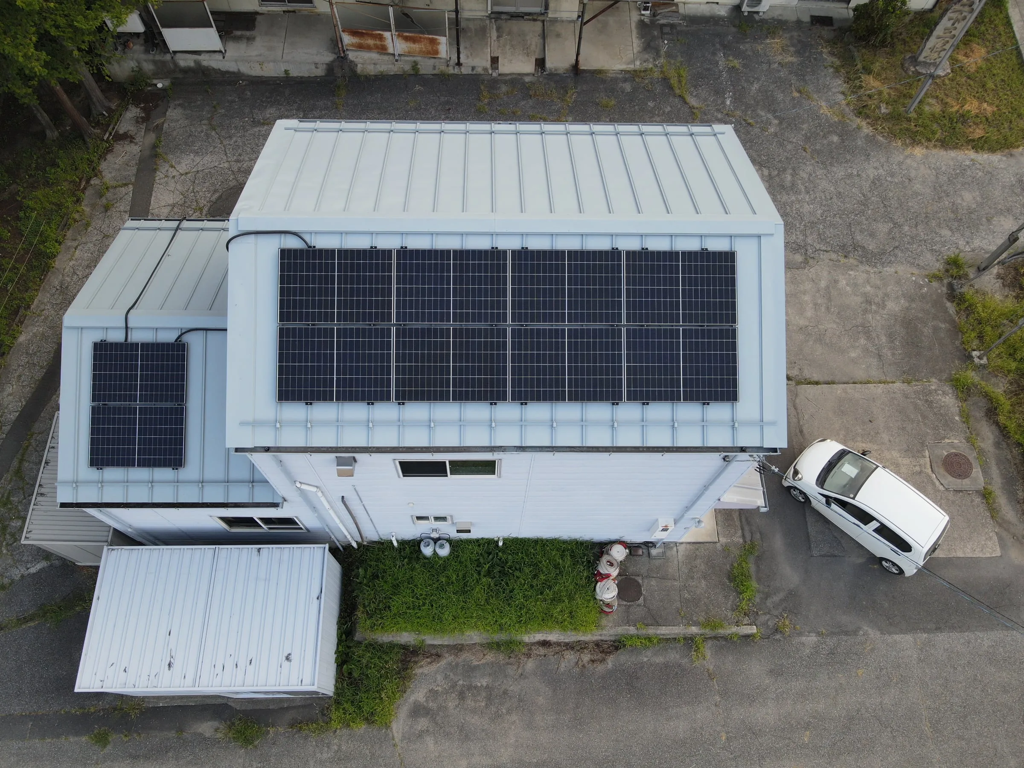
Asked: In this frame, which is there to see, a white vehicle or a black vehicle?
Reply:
white vehicle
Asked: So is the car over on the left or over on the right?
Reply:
right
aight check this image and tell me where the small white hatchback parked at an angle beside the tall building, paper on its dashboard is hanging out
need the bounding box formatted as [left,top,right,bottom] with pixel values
[785,439,951,577]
